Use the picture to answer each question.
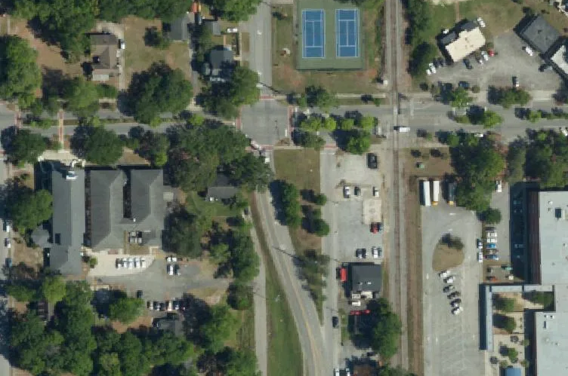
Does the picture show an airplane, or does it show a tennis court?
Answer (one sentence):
I can see a tennis court in this picture.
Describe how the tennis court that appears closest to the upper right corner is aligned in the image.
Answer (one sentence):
I'd say the tennis court that appears closest to the upper right corner is aligned up and down in the picture.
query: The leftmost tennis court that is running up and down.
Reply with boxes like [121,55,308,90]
[302,8,326,57]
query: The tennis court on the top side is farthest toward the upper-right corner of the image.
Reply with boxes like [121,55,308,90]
[337,8,359,57]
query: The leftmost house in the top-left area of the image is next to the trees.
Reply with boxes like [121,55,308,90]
[89,33,118,80]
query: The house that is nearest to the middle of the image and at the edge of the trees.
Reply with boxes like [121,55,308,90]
[207,185,241,199]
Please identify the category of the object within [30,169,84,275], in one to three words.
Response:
building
